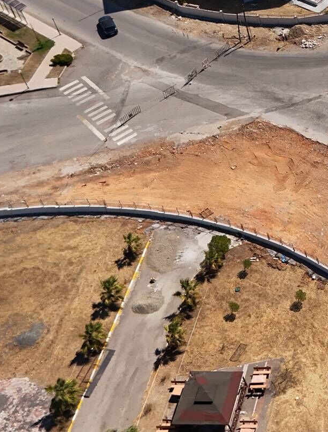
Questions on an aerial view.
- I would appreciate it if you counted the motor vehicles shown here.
1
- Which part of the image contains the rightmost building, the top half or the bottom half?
bottom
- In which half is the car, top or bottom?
top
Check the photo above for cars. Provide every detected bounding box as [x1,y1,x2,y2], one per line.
[94,13,117,36]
